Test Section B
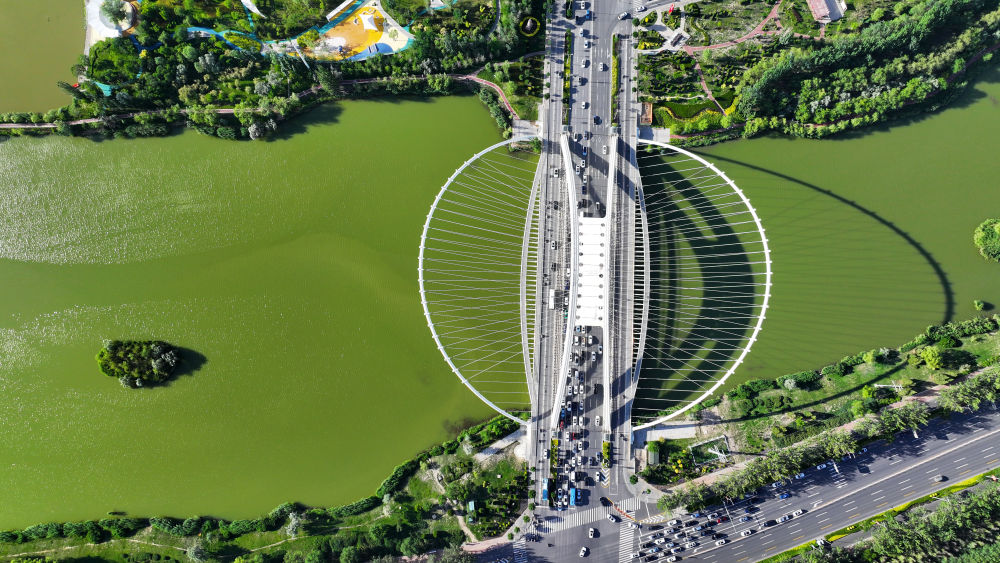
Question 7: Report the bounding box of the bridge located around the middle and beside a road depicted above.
[416,124,772,444]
